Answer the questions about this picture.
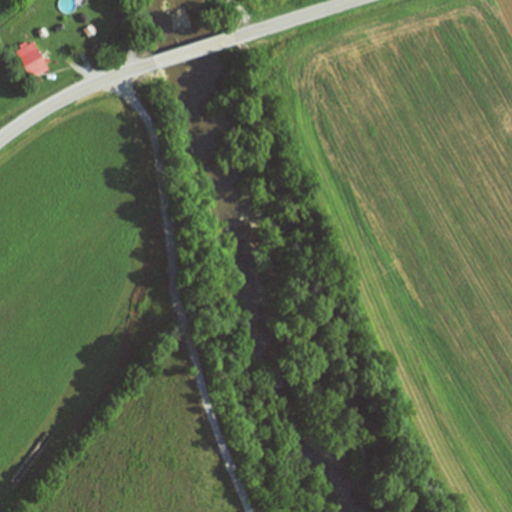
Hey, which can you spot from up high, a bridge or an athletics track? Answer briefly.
bridge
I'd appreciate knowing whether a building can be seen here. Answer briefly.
Yes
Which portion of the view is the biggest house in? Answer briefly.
top left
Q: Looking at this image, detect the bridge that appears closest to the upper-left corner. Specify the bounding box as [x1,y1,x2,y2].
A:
[150,32,236,70]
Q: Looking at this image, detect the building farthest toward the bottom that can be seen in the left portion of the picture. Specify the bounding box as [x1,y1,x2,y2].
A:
[16,42,50,77]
